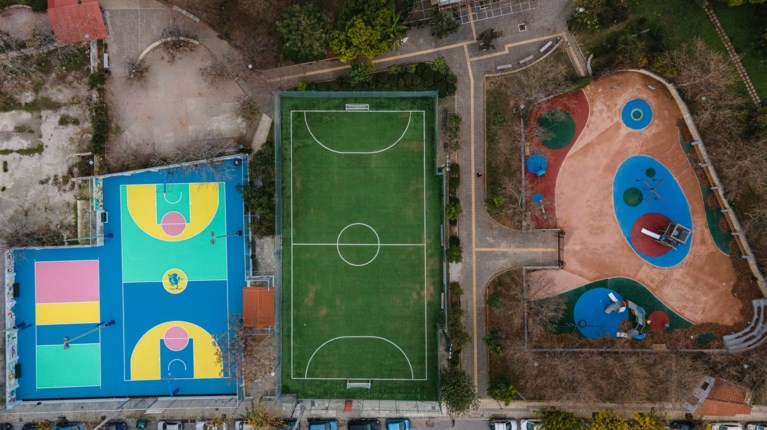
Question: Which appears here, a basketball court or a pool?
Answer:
basketball court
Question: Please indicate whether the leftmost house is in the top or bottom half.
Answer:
top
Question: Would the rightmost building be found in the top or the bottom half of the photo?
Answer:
bottom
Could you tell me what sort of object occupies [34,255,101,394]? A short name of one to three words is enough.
sports court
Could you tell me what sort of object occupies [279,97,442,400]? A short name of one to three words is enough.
soccer field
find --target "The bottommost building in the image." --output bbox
[682,376,754,416]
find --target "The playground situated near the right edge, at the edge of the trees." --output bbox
[527,70,743,345]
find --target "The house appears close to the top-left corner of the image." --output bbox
[47,0,108,45]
